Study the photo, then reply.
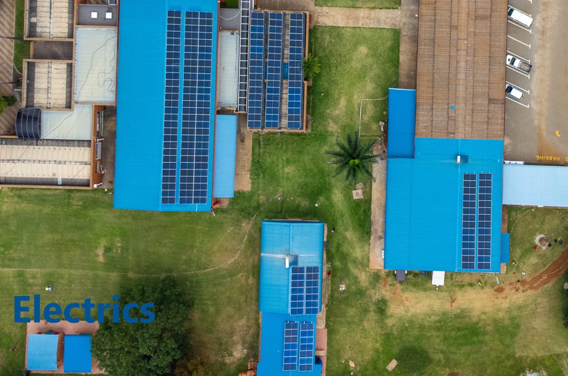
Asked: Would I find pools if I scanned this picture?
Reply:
No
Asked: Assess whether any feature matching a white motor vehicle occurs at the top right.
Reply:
Yes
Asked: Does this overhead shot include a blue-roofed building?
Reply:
Yes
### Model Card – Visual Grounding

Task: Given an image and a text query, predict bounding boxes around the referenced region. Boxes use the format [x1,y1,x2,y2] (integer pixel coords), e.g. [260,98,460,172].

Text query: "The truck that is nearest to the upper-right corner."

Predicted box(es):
[509,7,536,30]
